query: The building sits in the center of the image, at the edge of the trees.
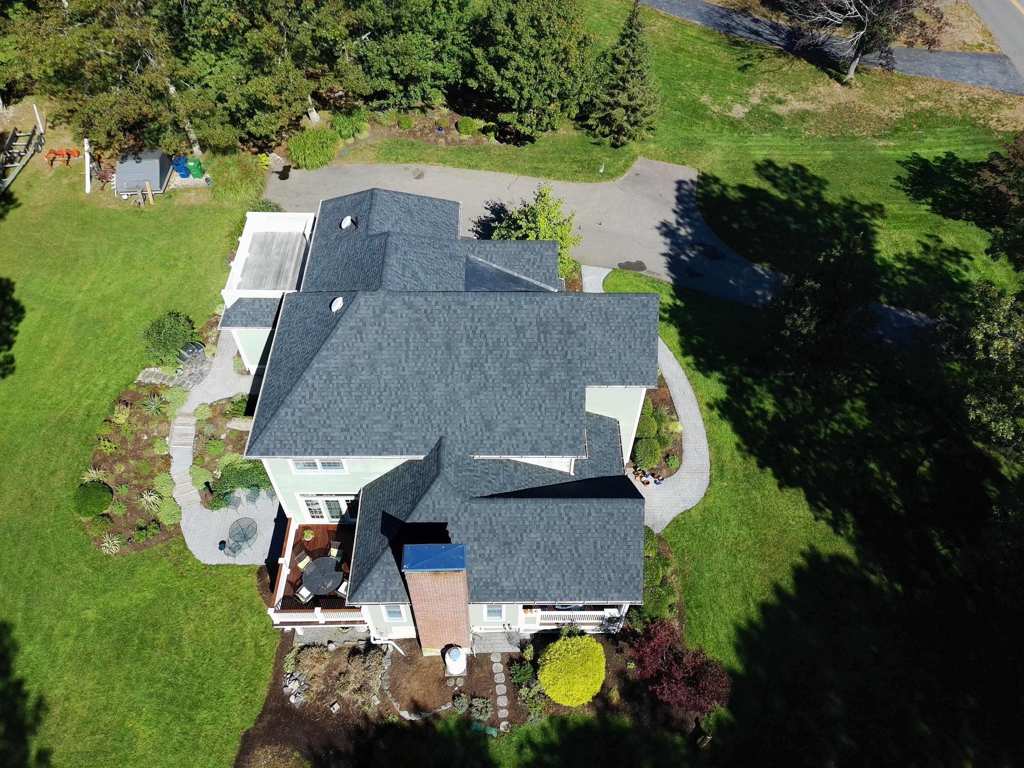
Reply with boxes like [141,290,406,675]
[215,187,659,660]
